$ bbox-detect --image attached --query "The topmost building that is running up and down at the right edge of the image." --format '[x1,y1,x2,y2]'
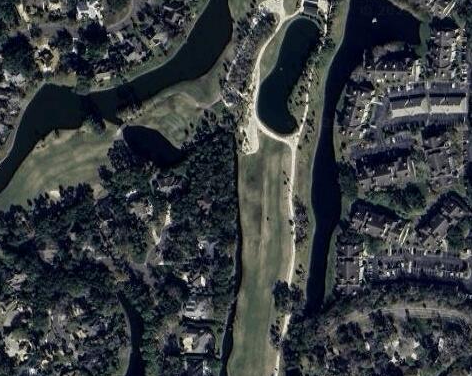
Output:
[429,28,455,82]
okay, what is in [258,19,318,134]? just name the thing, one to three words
pond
